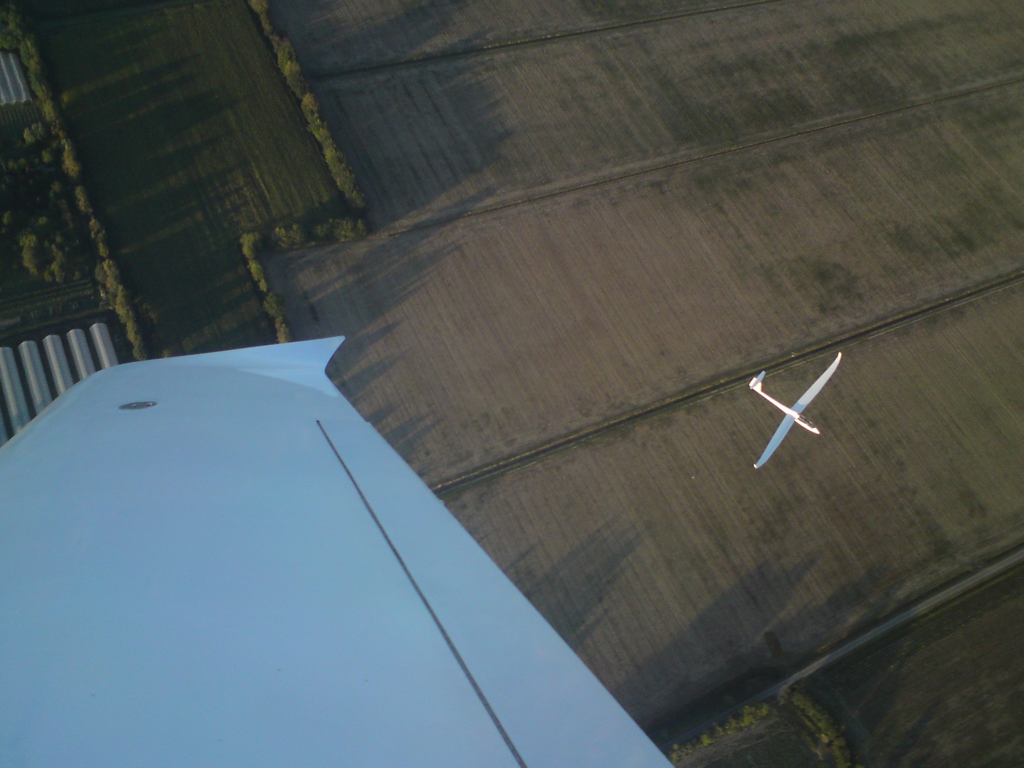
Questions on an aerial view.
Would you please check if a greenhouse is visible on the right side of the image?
No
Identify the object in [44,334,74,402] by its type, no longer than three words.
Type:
greenhouse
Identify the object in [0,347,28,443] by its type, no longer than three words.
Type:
greenhouse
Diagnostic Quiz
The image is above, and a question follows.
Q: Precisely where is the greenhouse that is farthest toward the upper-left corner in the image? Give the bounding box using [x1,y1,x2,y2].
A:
[0,51,31,109]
